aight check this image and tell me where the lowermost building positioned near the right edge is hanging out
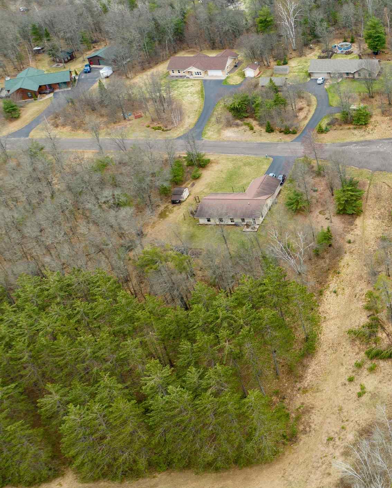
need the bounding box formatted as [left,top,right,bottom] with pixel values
[307,58,381,80]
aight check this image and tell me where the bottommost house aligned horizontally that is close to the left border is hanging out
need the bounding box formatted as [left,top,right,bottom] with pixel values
[0,71,94,103]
